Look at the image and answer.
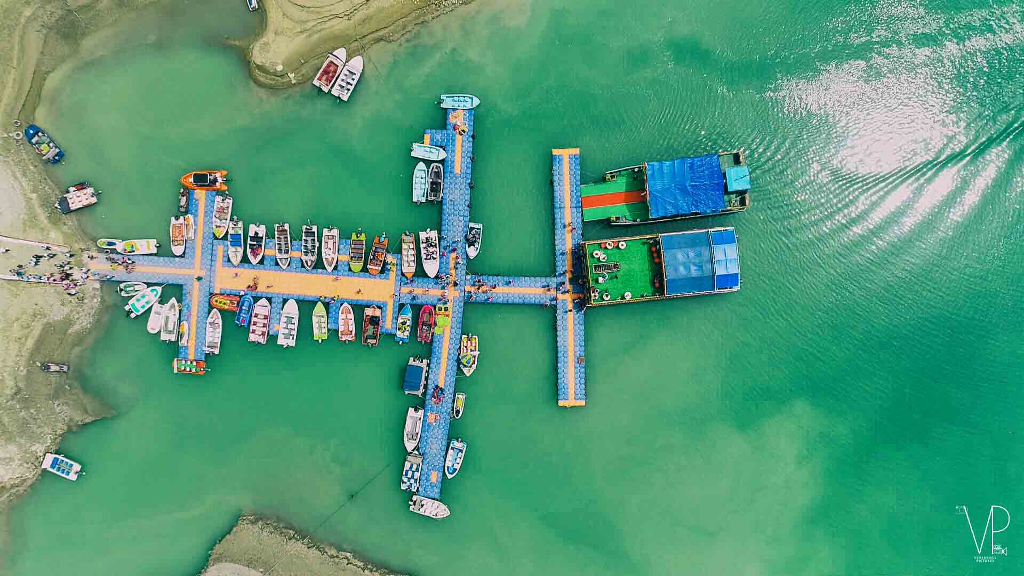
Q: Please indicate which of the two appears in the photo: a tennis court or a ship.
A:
ship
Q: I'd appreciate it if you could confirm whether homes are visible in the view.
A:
No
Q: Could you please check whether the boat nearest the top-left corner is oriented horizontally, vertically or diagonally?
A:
diagonally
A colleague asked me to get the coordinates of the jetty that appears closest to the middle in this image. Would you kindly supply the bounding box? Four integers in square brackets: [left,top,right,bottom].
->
[464,274,556,309]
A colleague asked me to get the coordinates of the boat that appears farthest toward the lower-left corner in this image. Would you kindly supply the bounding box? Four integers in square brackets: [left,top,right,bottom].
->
[42,454,88,480]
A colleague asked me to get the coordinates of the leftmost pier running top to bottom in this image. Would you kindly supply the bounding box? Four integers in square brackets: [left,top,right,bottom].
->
[178,188,218,361]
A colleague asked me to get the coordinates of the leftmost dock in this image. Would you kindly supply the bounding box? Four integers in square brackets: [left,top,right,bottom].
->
[88,252,186,284]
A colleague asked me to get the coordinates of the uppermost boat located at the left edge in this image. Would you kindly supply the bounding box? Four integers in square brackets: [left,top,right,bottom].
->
[25,124,68,167]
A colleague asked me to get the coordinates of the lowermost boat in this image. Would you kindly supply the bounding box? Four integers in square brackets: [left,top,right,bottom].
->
[407,495,450,518]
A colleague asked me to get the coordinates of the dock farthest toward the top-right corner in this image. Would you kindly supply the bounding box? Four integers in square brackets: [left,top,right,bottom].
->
[552,148,582,208]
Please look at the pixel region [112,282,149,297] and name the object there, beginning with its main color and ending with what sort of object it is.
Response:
white boat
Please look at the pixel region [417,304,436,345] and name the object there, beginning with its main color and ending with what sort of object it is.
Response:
red boat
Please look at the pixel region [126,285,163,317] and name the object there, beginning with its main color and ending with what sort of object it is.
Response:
white boat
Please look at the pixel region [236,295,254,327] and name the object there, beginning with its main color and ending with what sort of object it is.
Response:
blue boat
